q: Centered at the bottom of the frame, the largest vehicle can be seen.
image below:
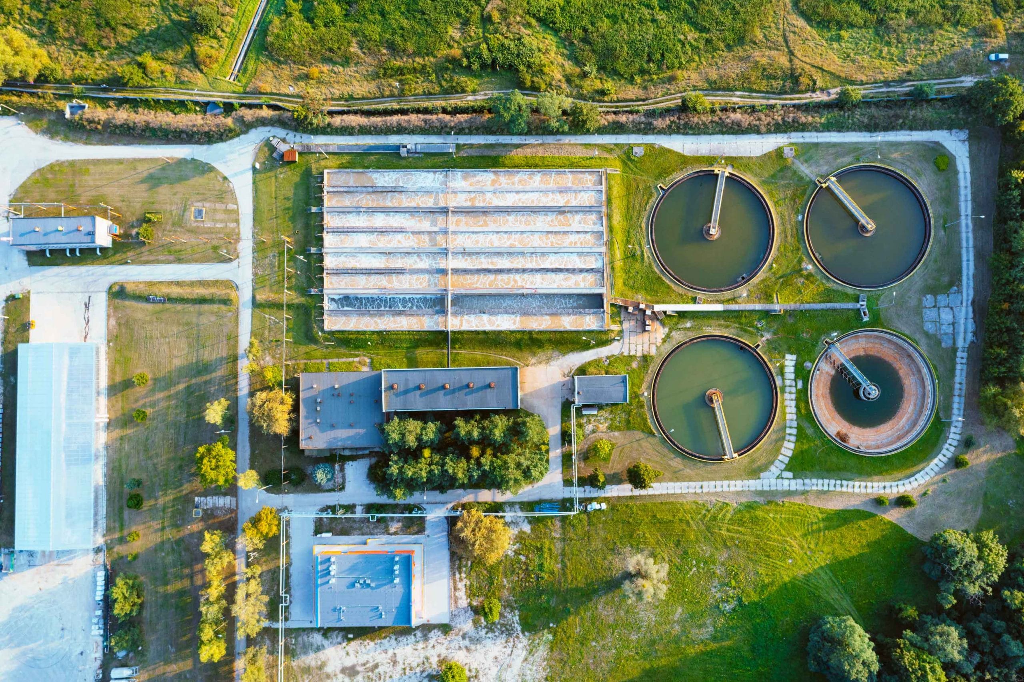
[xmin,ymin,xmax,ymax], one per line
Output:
[586,502,608,514]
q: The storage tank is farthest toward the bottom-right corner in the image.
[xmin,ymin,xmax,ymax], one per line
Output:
[808,328,937,456]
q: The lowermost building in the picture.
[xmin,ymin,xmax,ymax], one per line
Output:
[316,549,418,629]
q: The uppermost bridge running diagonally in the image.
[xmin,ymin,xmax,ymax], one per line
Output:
[821,174,873,232]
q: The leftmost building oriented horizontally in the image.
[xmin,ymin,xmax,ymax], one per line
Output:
[0,216,113,257]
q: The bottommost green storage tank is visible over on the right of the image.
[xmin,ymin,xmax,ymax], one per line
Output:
[651,334,779,462]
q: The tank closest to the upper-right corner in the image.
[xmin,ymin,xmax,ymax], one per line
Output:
[804,163,932,290]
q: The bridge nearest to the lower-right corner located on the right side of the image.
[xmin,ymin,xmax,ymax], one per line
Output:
[827,340,875,395]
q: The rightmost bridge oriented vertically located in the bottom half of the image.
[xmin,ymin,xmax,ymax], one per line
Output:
[710,394,738,461]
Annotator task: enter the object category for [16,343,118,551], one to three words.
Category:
shed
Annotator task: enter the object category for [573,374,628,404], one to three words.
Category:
building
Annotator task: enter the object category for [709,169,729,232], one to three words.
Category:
bridge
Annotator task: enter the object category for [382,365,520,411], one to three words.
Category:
building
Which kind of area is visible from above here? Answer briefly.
industrial area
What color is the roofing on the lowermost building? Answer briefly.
blue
